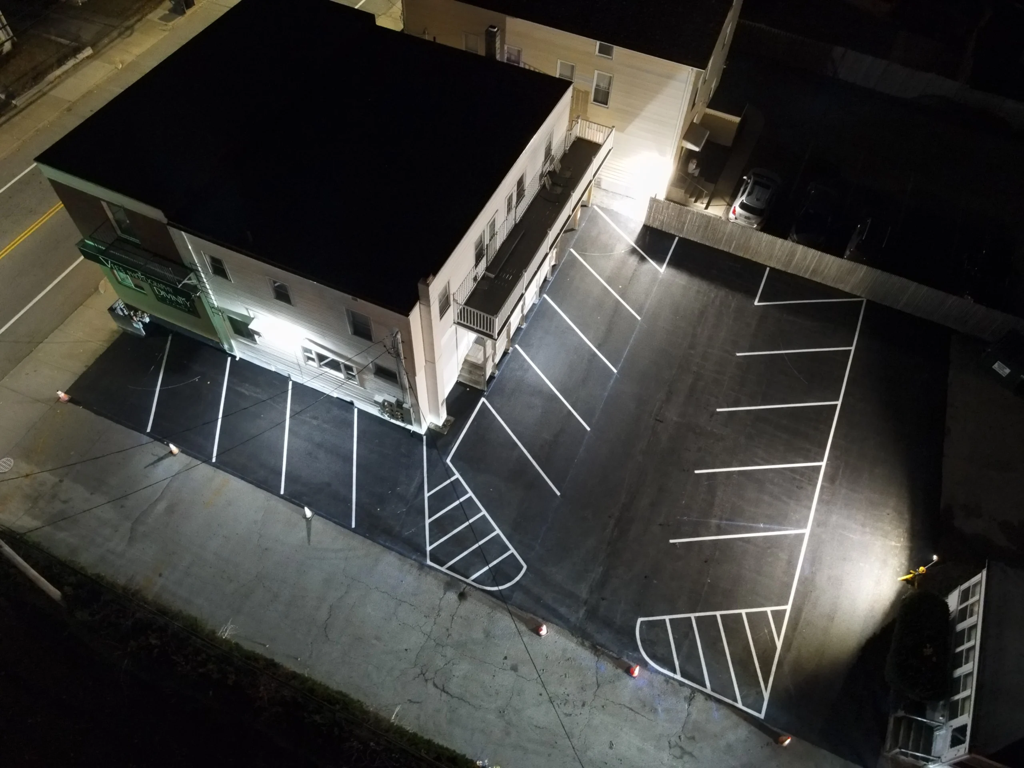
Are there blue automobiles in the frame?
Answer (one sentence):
No, the picture doesn't show any blue automobile.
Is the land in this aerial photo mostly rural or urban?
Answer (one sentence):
This place is urban.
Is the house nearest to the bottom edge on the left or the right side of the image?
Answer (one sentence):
You can find the house nearest to the bottom edge on the right side of the picture.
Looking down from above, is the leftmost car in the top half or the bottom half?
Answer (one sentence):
The leftmost car is in the top half of the image.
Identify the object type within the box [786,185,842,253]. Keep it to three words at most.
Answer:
car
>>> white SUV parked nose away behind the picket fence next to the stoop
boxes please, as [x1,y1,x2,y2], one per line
[727,163,782,230]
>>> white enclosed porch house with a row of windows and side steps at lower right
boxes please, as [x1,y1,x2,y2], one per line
[878,554,1024,768]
